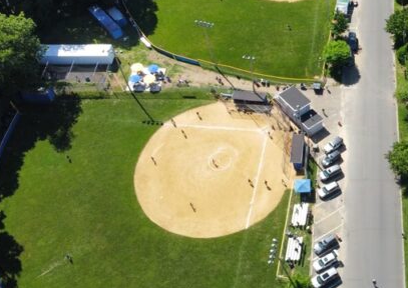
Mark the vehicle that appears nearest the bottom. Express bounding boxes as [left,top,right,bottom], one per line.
[311,268,338,288]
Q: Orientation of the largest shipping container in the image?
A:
diagonally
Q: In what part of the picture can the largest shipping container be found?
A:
top left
